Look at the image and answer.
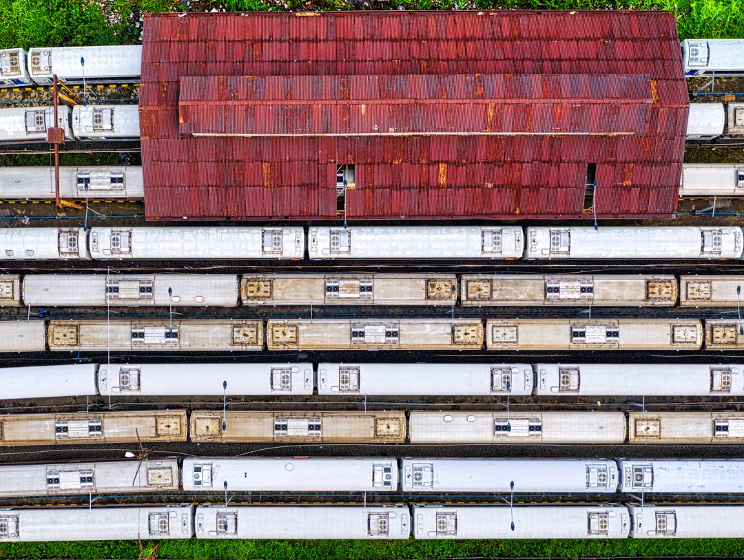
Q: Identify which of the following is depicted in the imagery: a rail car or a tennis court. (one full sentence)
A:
There is a rail car in the scene.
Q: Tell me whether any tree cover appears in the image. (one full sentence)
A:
No, there's no tree cover in this view.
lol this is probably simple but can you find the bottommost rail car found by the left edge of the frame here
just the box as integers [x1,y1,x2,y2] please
[0,503,196,542]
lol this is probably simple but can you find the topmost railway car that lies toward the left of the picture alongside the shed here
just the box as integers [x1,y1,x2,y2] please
[28,44,143,85]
